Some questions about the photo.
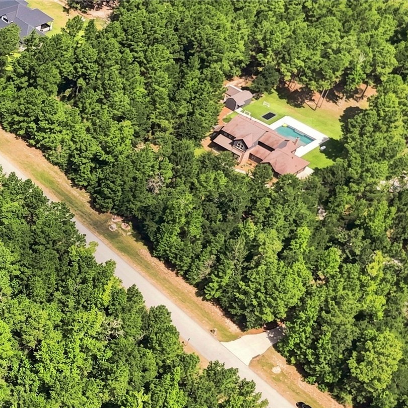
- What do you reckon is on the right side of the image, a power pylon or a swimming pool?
swimming pool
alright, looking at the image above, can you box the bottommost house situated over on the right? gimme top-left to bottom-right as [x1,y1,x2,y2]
[209,112,312,179]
